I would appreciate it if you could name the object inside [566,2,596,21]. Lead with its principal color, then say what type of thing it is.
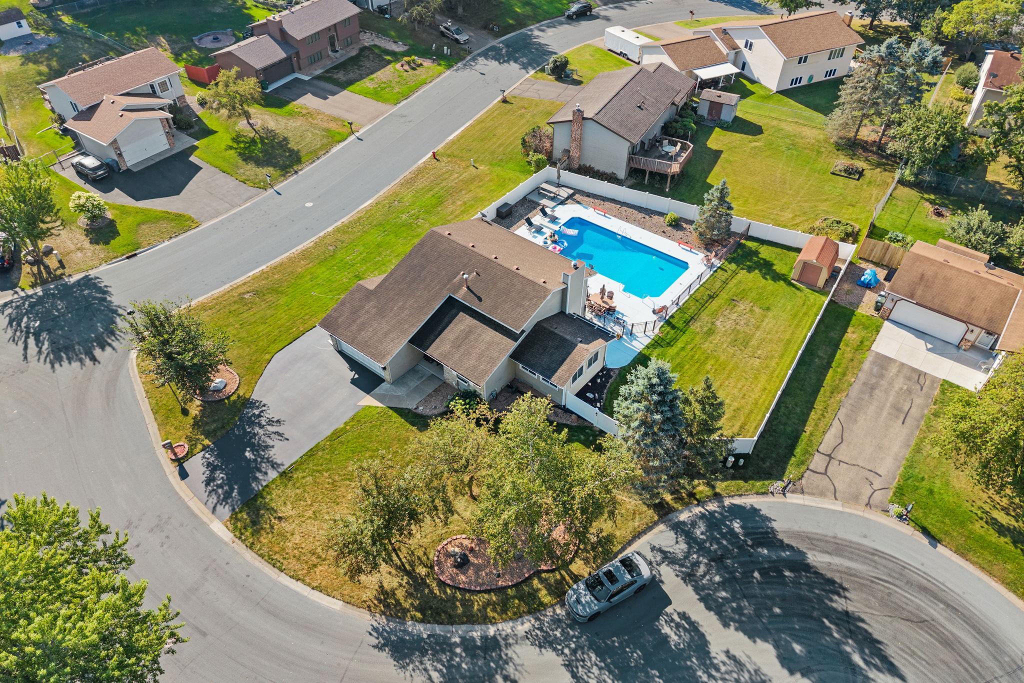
black car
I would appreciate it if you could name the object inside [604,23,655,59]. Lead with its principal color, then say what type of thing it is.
white trailer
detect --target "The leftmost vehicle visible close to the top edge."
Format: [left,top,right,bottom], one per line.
[439,21,467,42]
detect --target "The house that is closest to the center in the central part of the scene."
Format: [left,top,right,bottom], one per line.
[315,207,619,408]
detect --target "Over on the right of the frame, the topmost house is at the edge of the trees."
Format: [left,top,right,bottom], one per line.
[640,4,865,90]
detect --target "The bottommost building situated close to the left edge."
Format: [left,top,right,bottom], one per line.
[34,47,187,170]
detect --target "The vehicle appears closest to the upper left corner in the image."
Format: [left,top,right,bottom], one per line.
[71,151,108,177]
